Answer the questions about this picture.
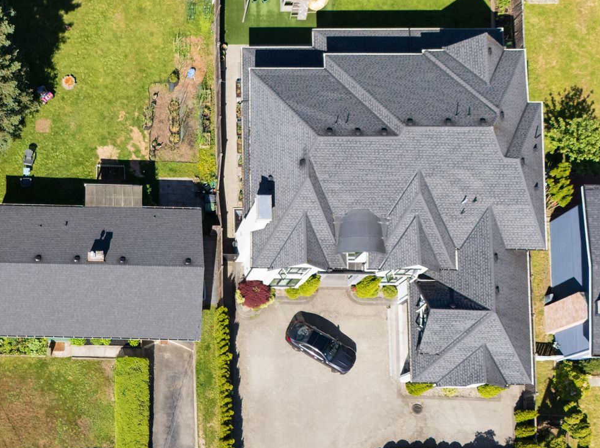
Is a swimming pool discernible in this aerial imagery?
No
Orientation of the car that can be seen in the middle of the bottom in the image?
on a diagonal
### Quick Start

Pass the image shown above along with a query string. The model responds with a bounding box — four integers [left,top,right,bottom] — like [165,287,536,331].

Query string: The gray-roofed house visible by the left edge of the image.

[0,202,205,344]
